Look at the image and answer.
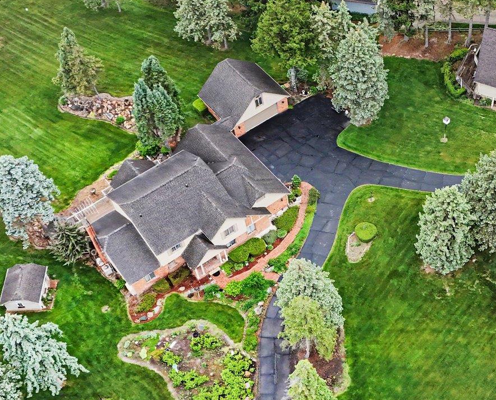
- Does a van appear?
No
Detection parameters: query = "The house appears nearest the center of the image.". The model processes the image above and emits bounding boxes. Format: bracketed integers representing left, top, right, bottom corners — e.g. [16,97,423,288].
[76,57,292,296]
